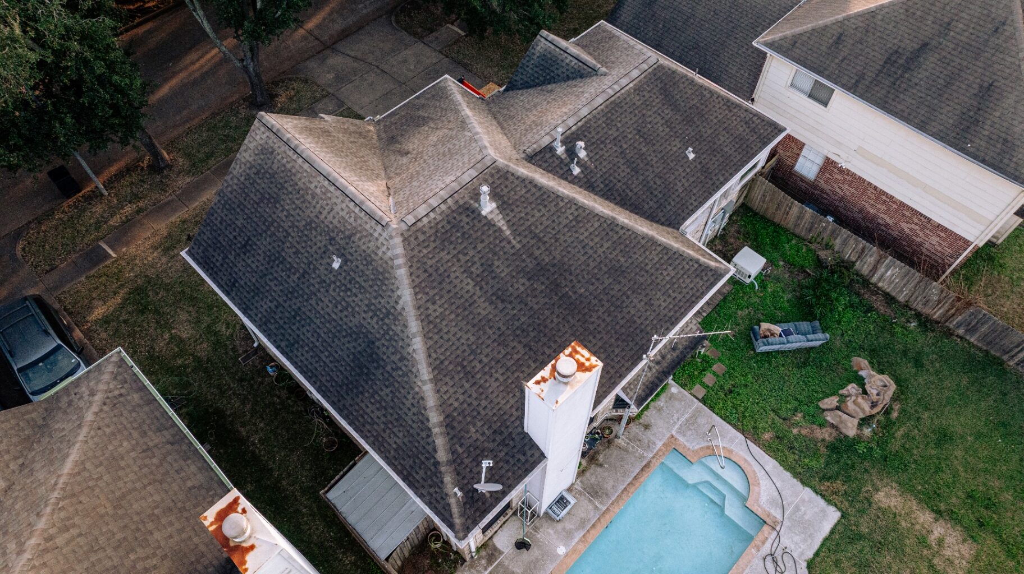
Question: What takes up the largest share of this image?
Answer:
buildings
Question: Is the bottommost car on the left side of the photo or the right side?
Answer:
left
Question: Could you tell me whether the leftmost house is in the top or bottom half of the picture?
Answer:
bottom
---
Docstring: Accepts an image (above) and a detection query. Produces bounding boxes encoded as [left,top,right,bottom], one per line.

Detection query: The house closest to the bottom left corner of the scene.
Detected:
[0,349,323,574]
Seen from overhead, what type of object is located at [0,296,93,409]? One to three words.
car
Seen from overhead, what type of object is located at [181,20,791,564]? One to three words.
house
